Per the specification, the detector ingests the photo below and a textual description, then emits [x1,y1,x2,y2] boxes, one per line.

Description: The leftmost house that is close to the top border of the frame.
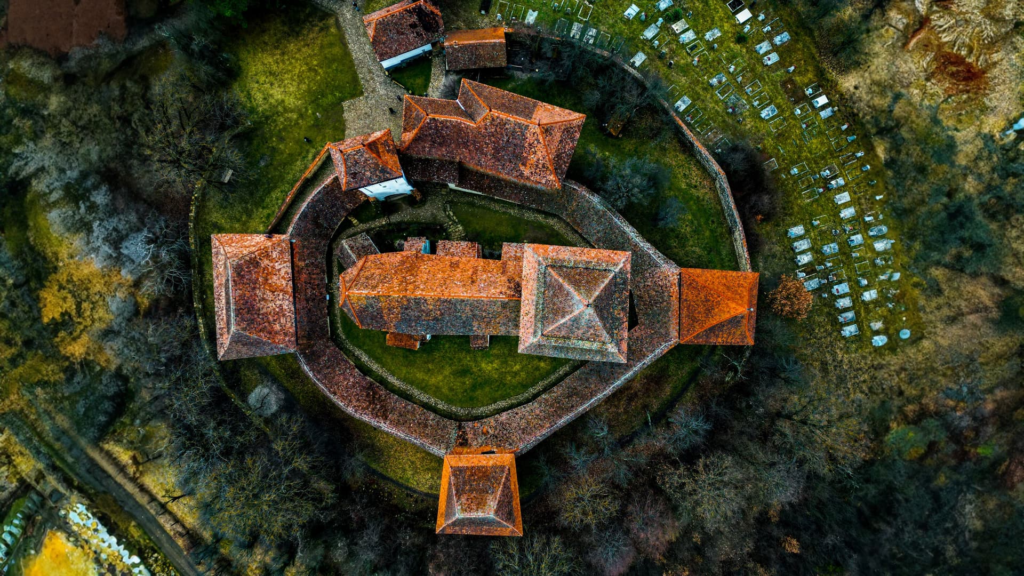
[362,0,445,68]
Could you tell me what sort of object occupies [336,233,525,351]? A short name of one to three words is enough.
building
